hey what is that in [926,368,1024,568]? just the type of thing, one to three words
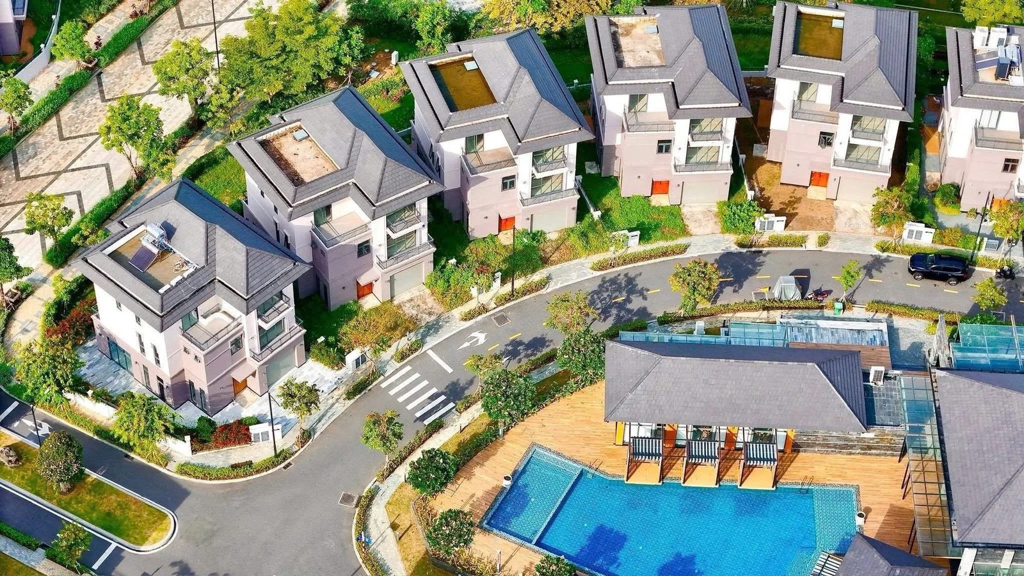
building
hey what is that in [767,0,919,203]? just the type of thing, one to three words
house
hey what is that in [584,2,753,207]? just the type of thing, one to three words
house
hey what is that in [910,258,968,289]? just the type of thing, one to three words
car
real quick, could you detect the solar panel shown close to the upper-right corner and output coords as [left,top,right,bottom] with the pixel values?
[973,48,1004,73]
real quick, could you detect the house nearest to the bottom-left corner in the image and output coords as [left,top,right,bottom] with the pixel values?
[71,175,312,417]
